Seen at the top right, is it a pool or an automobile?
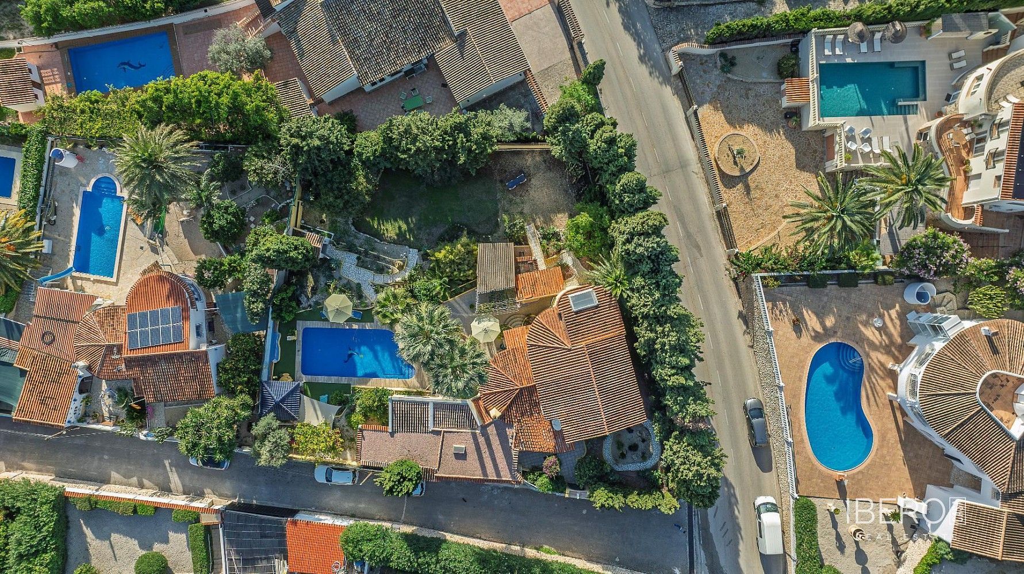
pool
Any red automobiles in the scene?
No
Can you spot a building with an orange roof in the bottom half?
Yes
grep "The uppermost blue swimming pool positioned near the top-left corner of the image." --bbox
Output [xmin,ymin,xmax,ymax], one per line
[60,27,182,103]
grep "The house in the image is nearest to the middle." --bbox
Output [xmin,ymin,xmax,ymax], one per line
[513,246,563,301]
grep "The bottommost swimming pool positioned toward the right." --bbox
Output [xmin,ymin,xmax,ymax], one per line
[800,337,878,476]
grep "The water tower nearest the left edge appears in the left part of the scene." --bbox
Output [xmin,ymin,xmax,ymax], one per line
[49,148,80,167]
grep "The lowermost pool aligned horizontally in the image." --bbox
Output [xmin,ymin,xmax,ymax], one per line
[300,326,415,381]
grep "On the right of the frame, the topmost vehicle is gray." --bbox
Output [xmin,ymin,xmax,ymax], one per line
[742,398,769,449]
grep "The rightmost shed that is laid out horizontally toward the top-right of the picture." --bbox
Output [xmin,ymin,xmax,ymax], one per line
[922,10,1017,43]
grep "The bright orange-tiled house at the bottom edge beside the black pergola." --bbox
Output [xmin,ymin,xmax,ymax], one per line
[285,504,356,574]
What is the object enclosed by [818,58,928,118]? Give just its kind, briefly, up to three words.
swimming pool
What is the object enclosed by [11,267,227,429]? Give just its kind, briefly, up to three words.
house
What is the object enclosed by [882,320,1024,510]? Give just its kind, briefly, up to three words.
house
